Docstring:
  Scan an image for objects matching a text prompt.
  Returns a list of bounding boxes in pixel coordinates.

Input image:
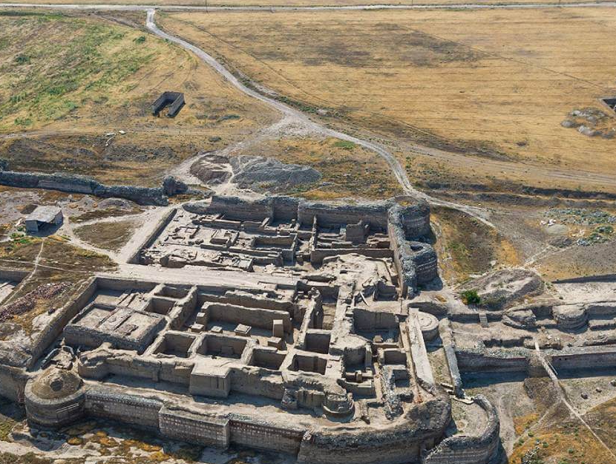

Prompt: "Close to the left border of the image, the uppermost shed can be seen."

[23,204,64,234]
